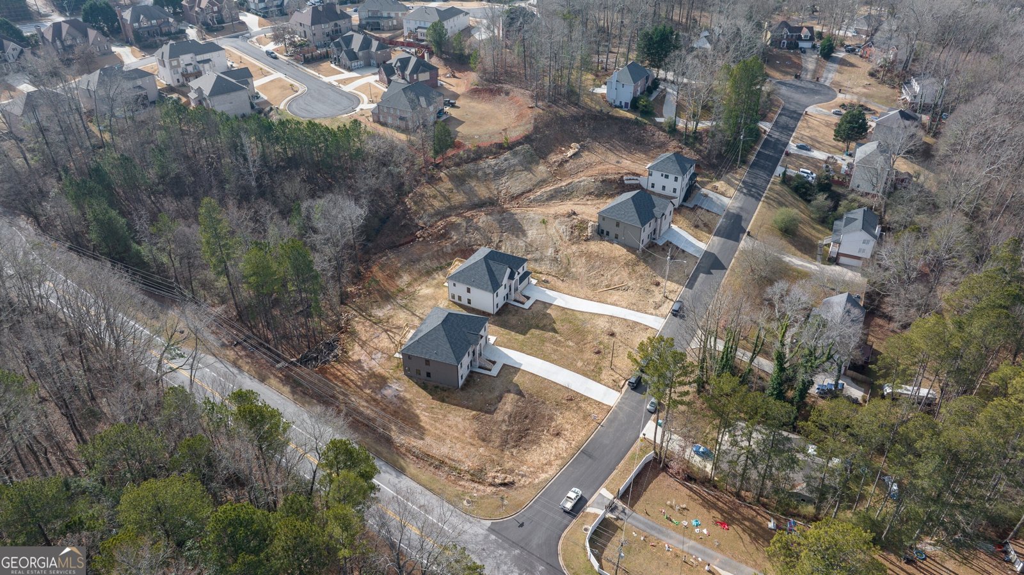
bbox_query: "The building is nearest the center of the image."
[445,246,538,315]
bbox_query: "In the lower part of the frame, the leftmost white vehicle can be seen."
[558,488,580,511]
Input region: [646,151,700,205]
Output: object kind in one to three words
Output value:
house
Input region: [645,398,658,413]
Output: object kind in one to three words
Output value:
vehicle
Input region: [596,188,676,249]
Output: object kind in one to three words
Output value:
house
